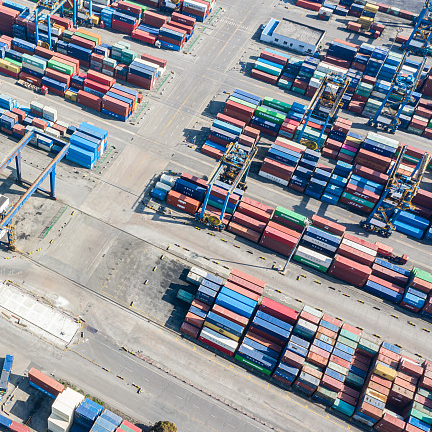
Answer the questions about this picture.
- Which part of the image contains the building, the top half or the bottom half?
top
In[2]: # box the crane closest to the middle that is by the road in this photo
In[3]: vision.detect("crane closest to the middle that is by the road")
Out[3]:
[193,140,259,230]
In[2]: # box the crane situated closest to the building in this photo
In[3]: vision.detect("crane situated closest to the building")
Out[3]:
[290,70,352,154]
